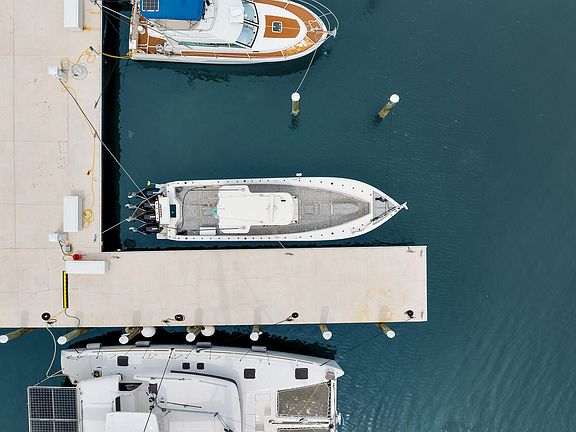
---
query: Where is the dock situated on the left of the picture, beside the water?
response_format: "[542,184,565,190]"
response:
[0,0,427,327]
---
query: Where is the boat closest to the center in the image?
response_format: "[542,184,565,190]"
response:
[125,177,407,241]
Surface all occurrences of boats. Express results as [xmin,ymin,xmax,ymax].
[28,344,344,432]
[125,177,407,241]
[129,0,338,64]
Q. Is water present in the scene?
Yes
